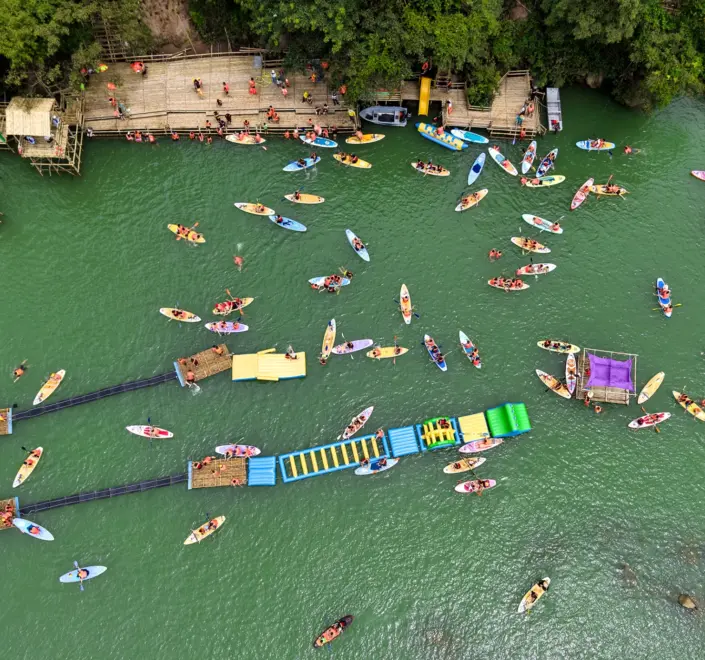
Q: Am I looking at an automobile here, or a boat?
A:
boat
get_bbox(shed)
[2,81,87,180]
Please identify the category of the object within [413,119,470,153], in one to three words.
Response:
boat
